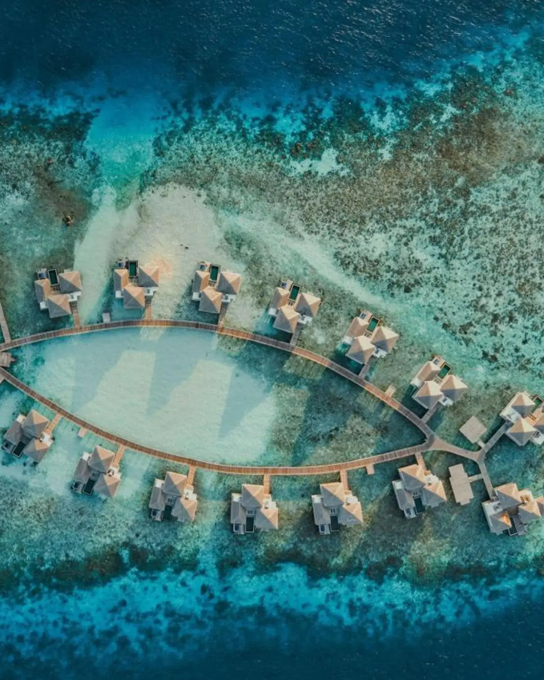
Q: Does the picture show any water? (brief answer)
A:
Yes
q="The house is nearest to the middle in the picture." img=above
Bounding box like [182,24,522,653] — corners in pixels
[265,281,320,333]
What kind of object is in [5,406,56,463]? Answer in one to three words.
house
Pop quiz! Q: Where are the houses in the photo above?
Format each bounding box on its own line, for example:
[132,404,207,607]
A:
[150,470,198,521]
[73,444,125,498]
[231,484,278,530]
[405,357,466,413]
[309,482,359,529]
[481,483,544,535]
[5,406,56,463]
[391,465,446,515]
[500,391,544,445]
[339,311,398,365]
[191,264,241,312]
[35,266,83,317]
[114,262,160,308]
[265,281,320,333]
